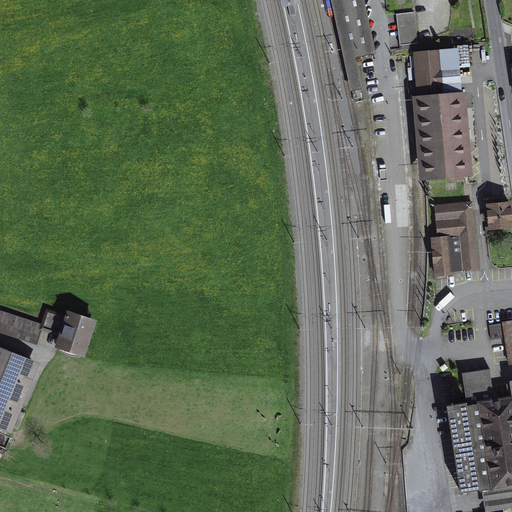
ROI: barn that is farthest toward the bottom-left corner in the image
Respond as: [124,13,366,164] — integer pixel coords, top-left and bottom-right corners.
[0,348,40,433]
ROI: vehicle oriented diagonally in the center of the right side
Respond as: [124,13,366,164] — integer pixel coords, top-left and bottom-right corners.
[436,292,454,310]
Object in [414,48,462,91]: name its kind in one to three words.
building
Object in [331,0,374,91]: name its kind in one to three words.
shed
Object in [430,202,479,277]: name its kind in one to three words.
house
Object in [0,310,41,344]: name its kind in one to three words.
barn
